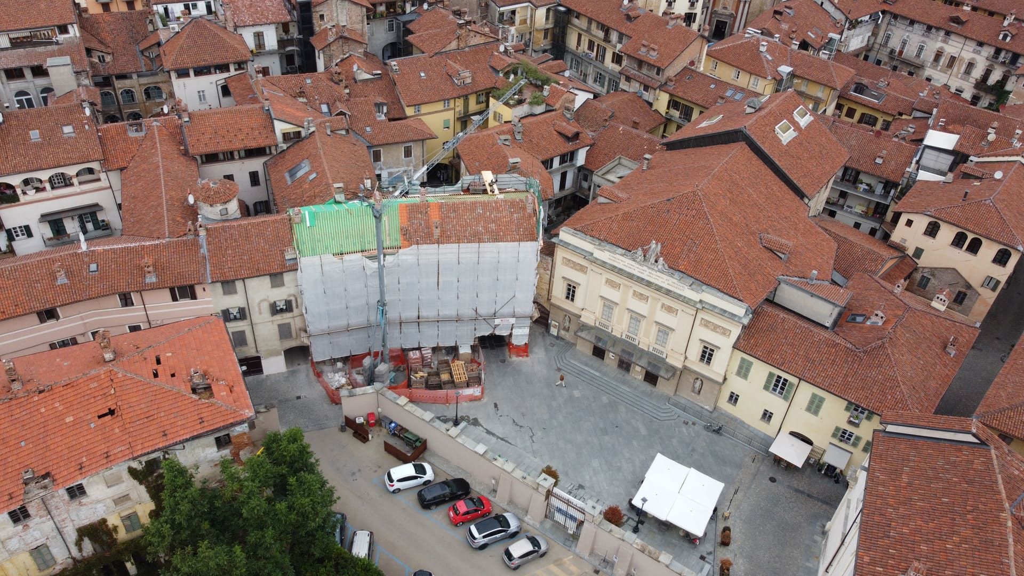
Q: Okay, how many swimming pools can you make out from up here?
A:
none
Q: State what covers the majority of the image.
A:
buildings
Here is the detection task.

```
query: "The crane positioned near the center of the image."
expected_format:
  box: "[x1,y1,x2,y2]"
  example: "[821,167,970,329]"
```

[359,75,529,389]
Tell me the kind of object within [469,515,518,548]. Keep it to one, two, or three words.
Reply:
car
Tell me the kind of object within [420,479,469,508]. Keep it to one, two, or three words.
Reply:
car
